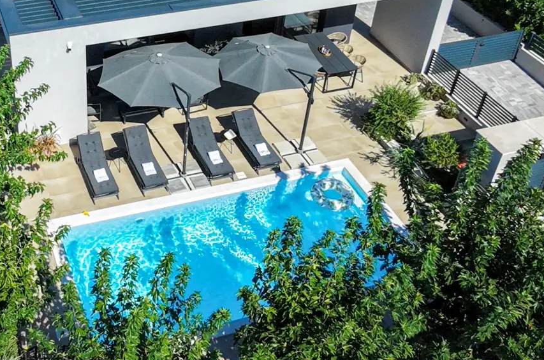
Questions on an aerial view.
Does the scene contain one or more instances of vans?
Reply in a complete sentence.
No, I find no van anywhere in the image.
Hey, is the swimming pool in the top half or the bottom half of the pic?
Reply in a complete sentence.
The bottom half of the photo is where the swimming pool is.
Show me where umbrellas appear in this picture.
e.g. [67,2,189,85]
[209,31,330,165]
[99,42,219,188]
